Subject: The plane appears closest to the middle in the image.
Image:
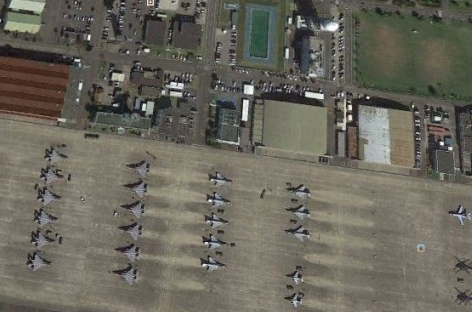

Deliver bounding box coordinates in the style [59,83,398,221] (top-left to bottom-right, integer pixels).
[209,173,227,187]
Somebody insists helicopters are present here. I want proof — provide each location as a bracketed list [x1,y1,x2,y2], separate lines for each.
[459,290,472,305]
[457,260,472,274]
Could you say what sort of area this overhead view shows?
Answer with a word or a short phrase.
airport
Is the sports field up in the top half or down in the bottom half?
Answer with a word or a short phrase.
top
